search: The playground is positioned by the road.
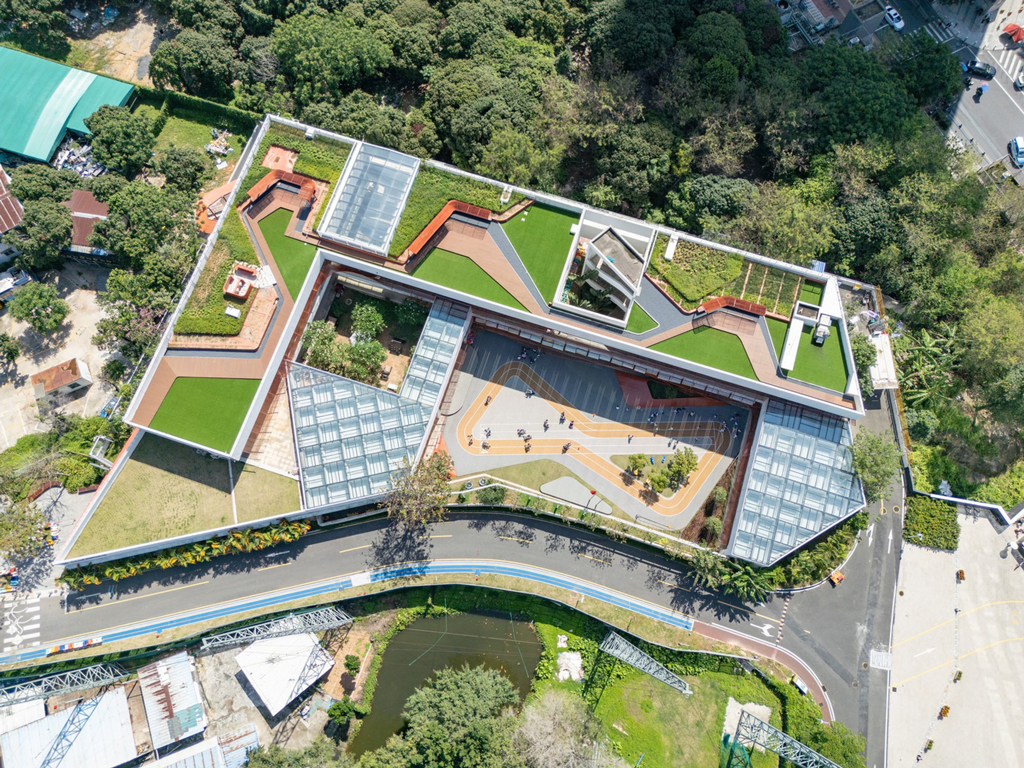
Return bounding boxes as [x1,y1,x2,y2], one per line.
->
[430,323,759,546]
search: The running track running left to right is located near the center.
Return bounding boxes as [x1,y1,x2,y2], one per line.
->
[454,356,732,513]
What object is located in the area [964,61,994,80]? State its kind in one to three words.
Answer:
car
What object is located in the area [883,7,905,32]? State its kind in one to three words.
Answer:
car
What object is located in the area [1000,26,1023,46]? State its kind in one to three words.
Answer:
umbrella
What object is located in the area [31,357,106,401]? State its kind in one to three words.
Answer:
shed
